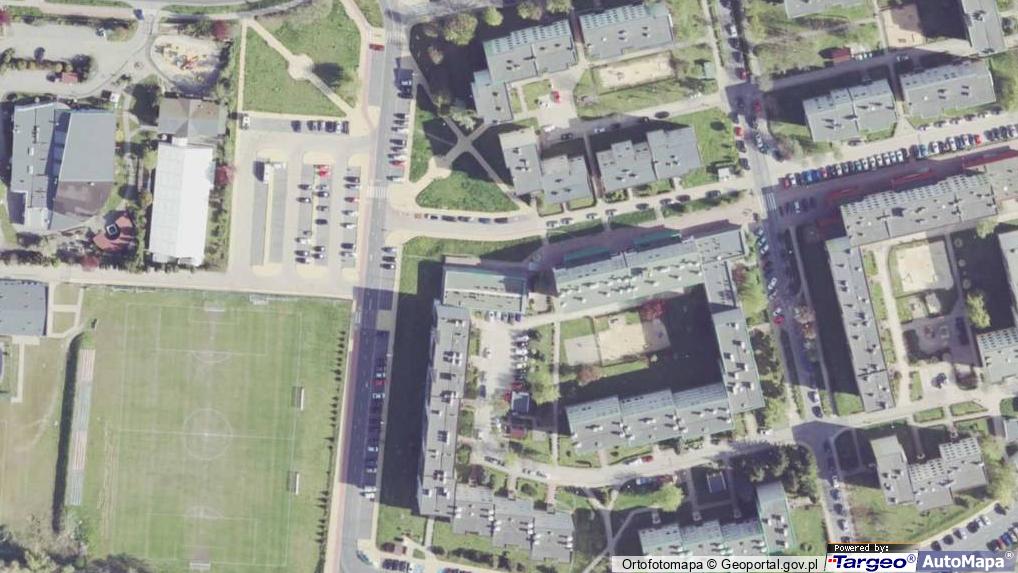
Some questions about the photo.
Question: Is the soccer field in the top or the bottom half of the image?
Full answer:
The soccer field sits in the bottom half of the picture.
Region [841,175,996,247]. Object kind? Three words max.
building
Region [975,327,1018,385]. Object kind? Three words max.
building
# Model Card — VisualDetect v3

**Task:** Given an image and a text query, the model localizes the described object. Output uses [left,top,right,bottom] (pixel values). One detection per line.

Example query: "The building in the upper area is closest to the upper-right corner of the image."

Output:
[962,0,1005,55]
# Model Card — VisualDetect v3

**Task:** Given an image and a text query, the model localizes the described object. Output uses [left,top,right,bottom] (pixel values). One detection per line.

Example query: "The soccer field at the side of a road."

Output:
[70,292,352,573]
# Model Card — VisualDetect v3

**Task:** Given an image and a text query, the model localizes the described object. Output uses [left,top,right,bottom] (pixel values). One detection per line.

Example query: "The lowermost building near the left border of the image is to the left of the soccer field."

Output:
[0,275,48,336]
